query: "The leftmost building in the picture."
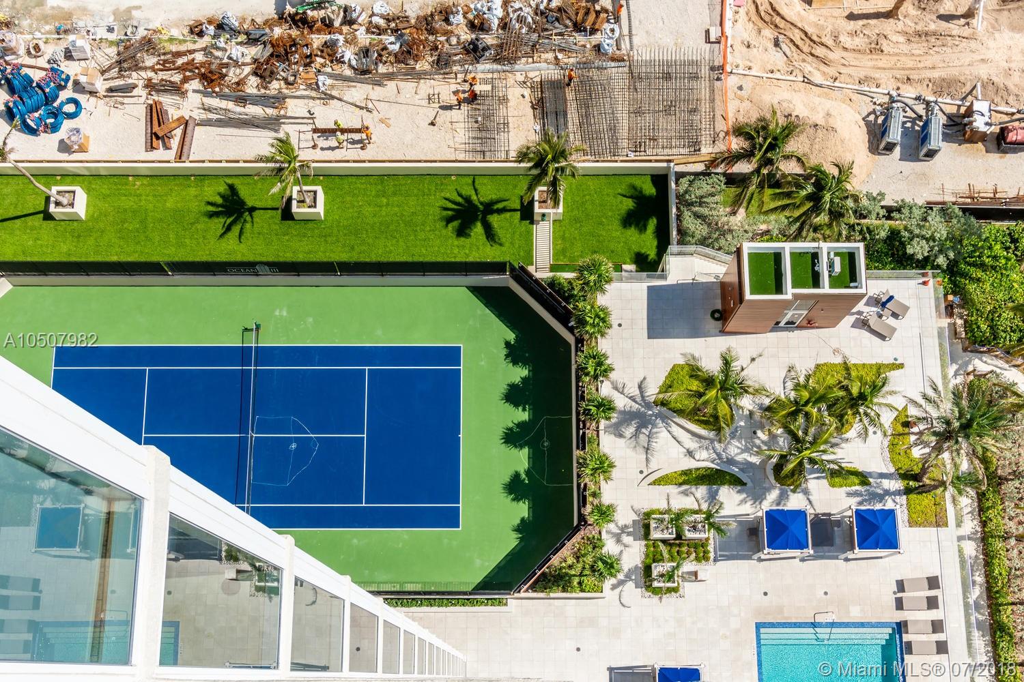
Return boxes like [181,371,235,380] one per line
[0,359,465,677]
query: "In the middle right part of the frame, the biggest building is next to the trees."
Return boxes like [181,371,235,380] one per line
[718,243,866,333]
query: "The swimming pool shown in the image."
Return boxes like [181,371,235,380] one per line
[750,617,912,682]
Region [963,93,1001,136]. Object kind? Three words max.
storage tank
